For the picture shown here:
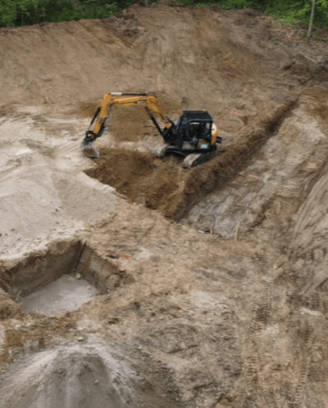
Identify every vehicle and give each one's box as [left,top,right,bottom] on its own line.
[80,90,229,173]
